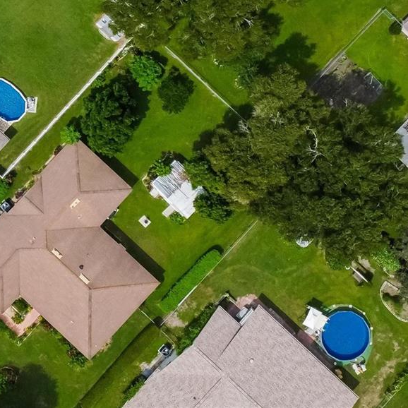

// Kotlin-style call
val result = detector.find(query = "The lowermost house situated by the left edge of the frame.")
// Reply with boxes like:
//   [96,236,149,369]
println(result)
[0,140,160,359]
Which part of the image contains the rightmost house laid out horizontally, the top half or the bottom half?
bottom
